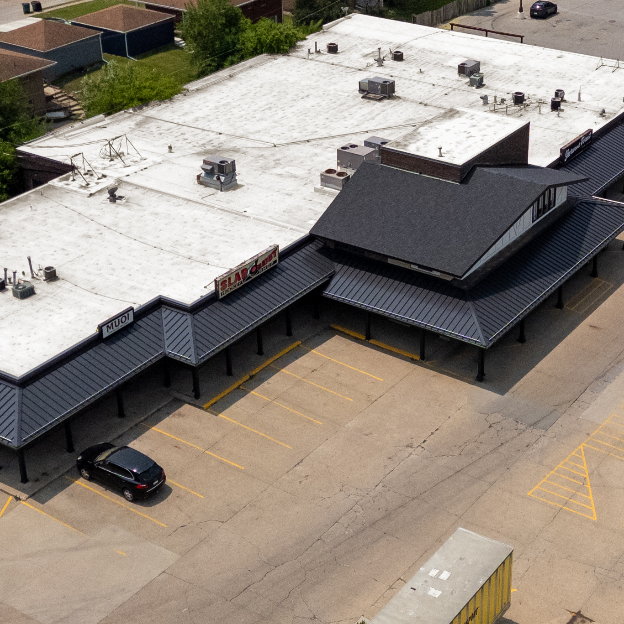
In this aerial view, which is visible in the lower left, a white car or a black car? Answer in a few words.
black car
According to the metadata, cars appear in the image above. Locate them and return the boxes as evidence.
[72,441,167,500]
[529,0,561,19]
